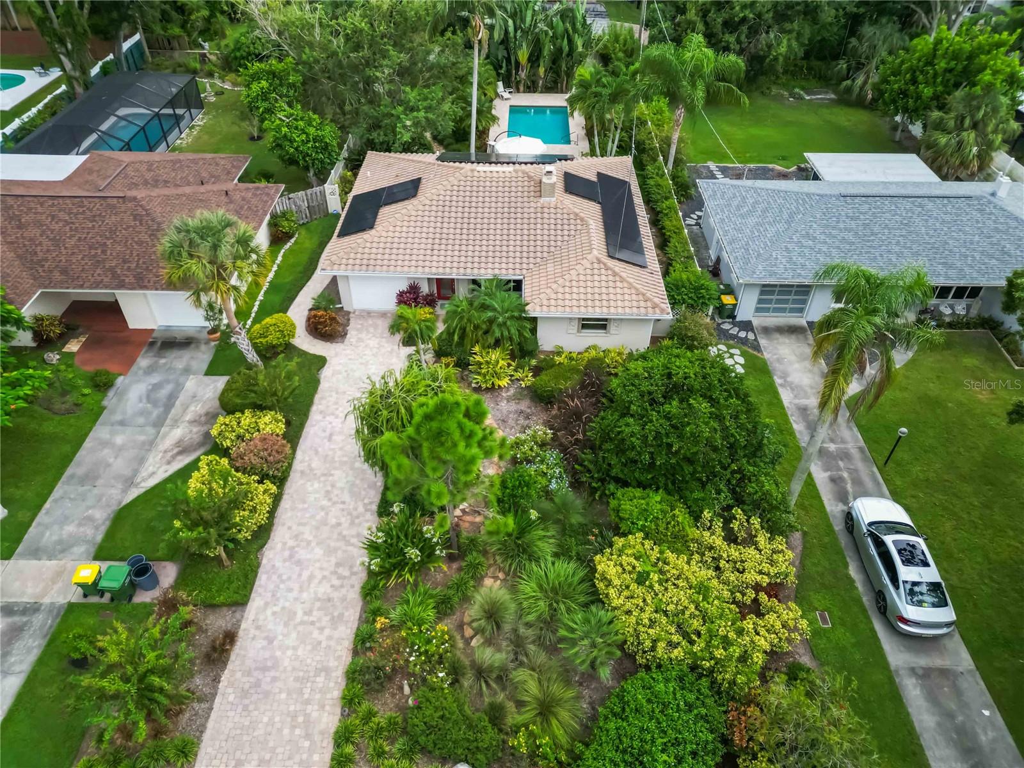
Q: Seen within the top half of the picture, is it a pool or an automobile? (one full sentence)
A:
Looking within the top half of the picture, you will find a pool.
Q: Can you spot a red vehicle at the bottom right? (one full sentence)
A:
No, no red vehicle can be made out at the bottom right.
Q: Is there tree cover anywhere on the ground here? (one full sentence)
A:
Yes, there is tree cover in the image.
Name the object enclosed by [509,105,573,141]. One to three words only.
swimming pool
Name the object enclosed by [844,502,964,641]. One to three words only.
car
